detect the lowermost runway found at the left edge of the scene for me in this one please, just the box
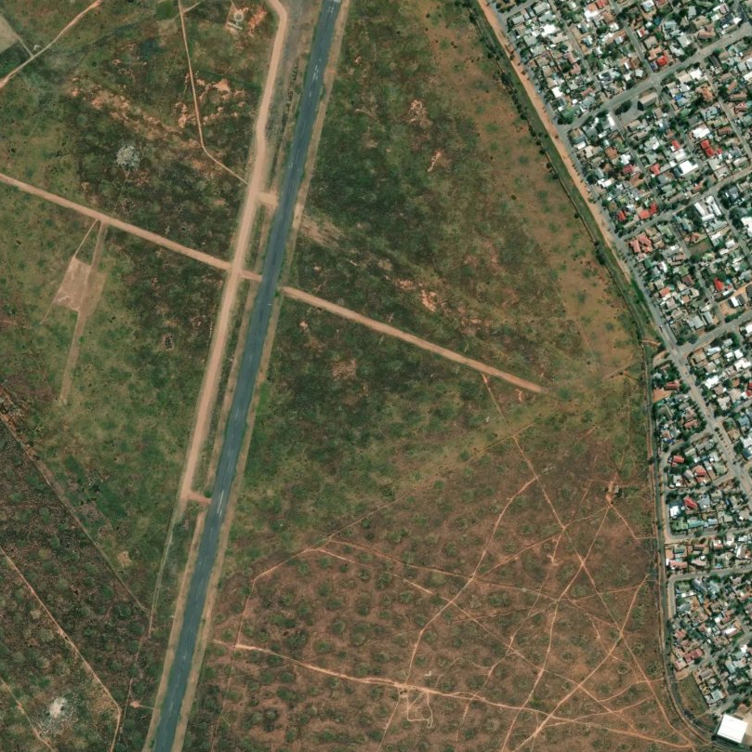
[10,177,231,272]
